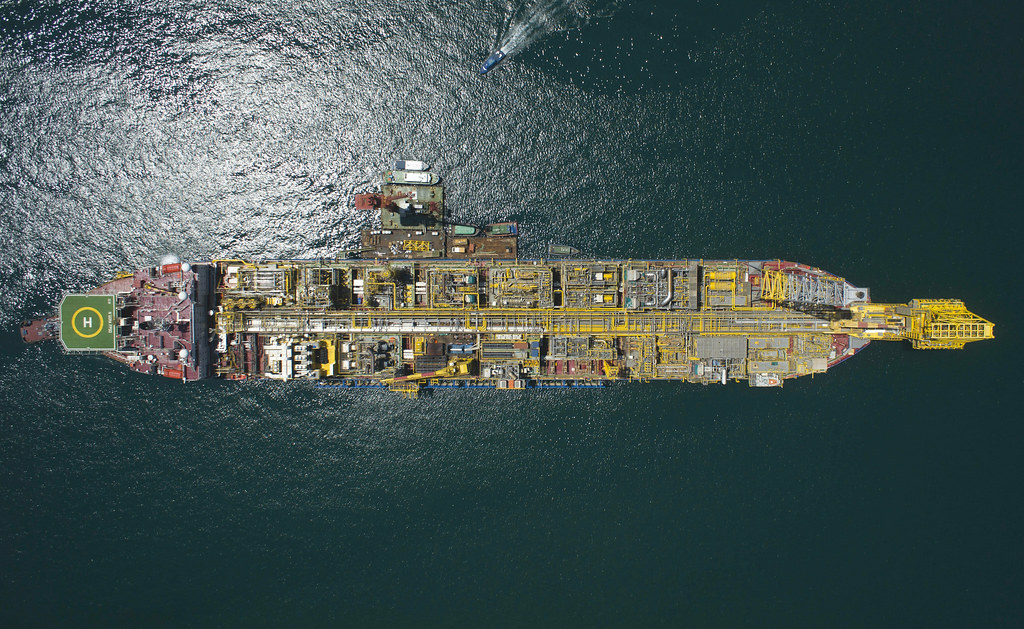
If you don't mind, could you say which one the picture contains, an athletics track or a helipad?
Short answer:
helipad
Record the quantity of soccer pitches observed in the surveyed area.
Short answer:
none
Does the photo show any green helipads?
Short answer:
Yes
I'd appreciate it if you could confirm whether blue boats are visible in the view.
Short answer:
Yes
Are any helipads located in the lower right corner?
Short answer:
No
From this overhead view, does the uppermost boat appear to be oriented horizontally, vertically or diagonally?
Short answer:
diagonally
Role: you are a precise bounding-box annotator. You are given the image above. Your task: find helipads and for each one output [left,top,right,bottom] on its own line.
[56,291,120,353]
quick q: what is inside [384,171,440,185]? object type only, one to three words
boat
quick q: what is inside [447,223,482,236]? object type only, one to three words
boat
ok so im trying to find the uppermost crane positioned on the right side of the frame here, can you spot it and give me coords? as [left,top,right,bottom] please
[826,316,912,330]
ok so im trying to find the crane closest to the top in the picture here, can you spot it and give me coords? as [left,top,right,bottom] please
[355,193,419,213]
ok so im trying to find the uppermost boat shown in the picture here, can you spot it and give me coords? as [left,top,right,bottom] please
[480,48,506,74]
